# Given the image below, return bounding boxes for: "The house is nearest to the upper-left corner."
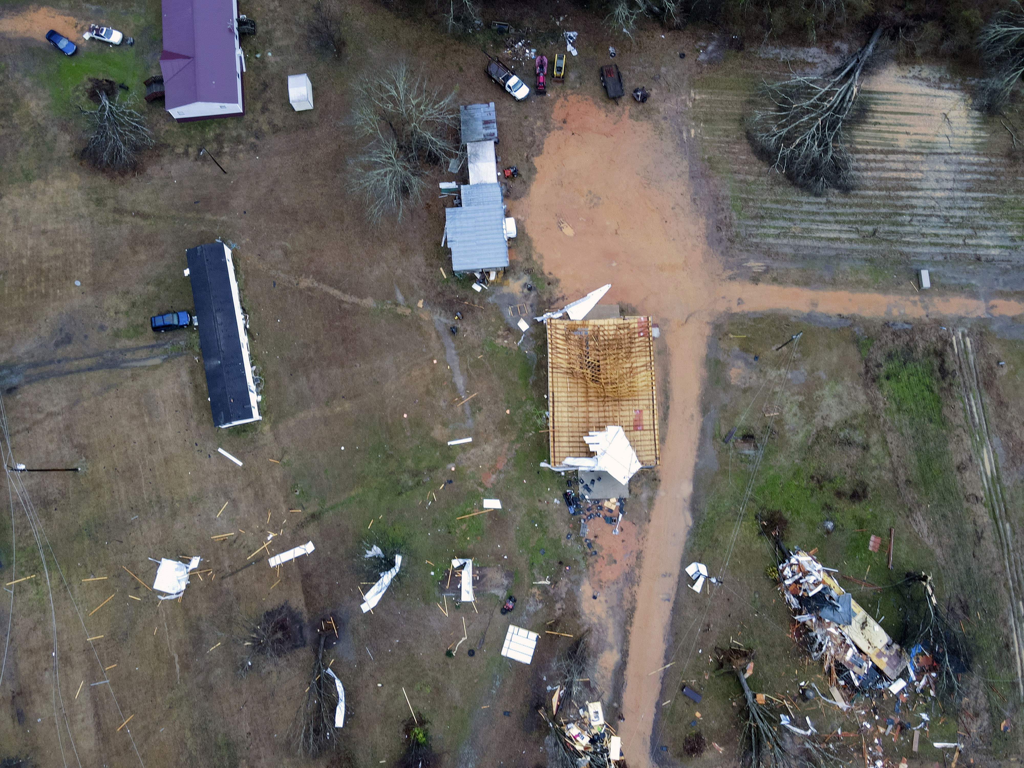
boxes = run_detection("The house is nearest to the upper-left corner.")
[157,0,246,122]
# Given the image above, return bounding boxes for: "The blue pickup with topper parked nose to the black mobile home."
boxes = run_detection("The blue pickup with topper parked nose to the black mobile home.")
[149,310,193,331]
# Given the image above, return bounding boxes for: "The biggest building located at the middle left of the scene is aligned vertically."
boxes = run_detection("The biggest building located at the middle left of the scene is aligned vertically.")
[186,241,262,428]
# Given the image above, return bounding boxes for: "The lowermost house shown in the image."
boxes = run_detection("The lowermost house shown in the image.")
[798,547,910,679]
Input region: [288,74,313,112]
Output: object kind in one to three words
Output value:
shed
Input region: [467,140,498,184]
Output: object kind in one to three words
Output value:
shed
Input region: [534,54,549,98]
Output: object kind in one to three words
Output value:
work vehicle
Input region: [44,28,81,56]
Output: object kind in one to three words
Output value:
car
